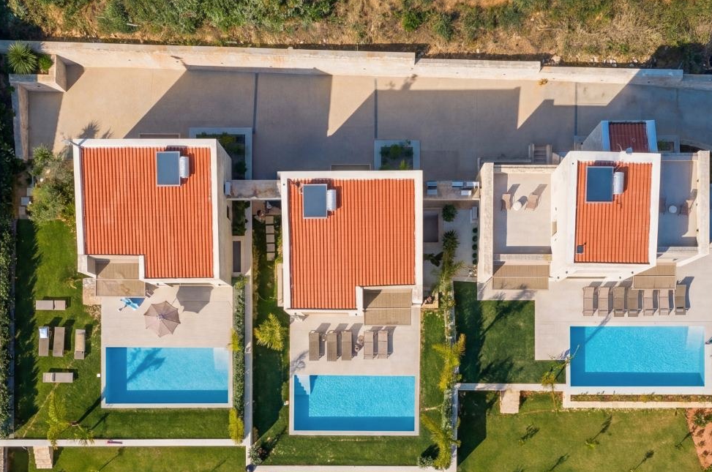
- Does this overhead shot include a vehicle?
No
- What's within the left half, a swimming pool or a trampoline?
swimming pool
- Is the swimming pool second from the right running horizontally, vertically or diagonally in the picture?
horizontally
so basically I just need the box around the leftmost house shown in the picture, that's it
[74,138,232,289]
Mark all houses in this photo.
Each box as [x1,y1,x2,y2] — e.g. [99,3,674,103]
[474,120,712,287]
[278,170,422,318]
[74,138,232,289]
